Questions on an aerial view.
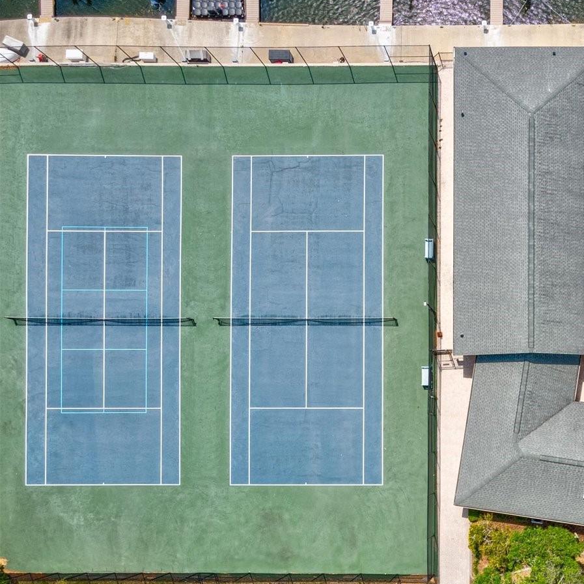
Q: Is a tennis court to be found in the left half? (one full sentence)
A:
Yes, the scene does show a tennis court in the left half.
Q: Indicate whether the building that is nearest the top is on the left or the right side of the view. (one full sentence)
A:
The building that is nearest the top is on the right side of the image.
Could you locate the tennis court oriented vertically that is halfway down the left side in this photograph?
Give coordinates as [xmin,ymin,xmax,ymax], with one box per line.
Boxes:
[0,65,207,575]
